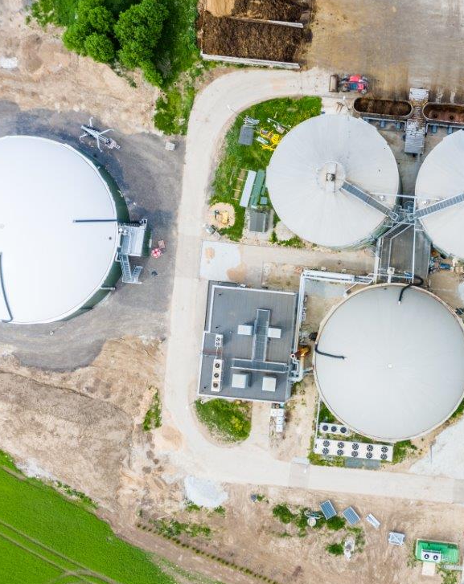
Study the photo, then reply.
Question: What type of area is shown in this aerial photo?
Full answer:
What you see here is an industrial area.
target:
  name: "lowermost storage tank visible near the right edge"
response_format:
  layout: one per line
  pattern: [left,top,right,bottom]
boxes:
[309,274,464,441]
